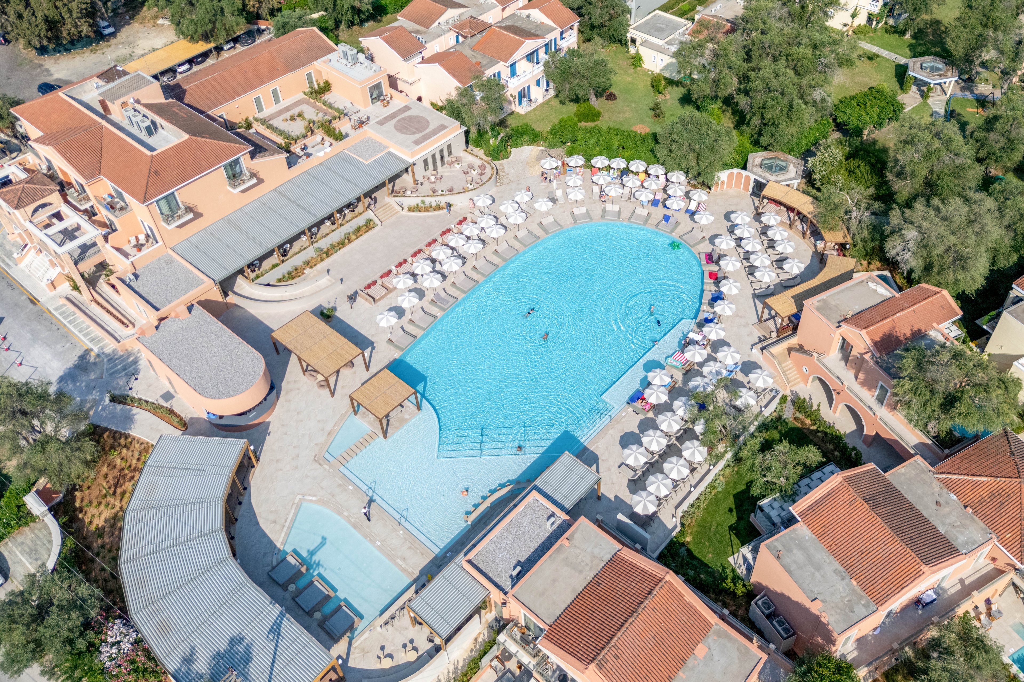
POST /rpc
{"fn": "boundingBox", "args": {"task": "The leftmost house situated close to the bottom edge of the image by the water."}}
[462,491,767,682]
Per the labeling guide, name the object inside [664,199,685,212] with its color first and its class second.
white umbrella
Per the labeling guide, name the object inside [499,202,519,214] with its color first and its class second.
white umbrella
